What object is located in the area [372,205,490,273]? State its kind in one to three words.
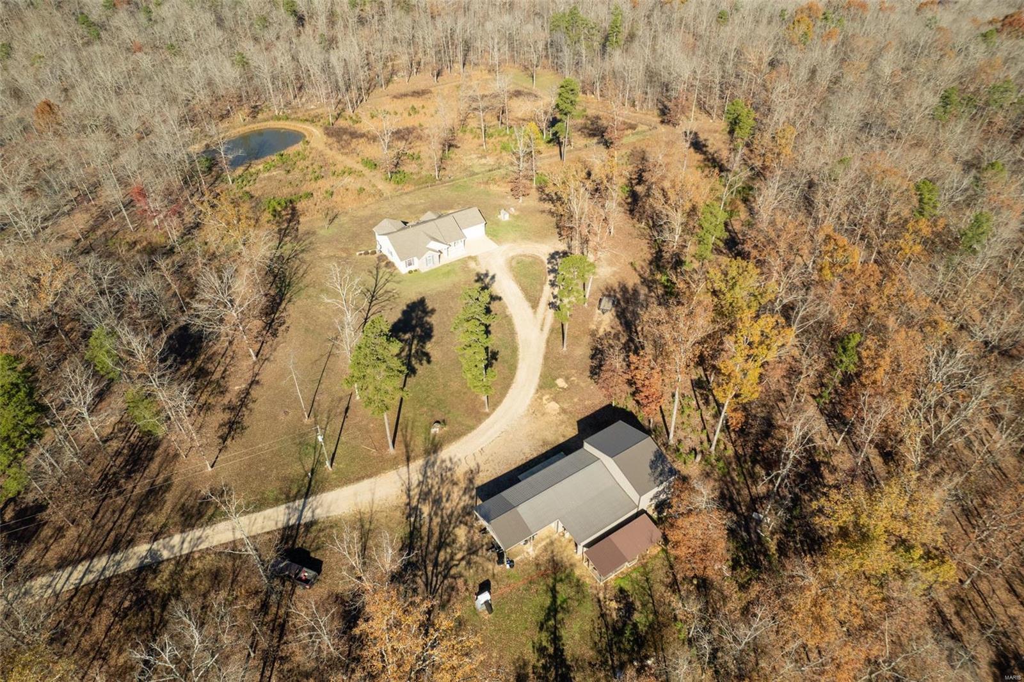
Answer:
house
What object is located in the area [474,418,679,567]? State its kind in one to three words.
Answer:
building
